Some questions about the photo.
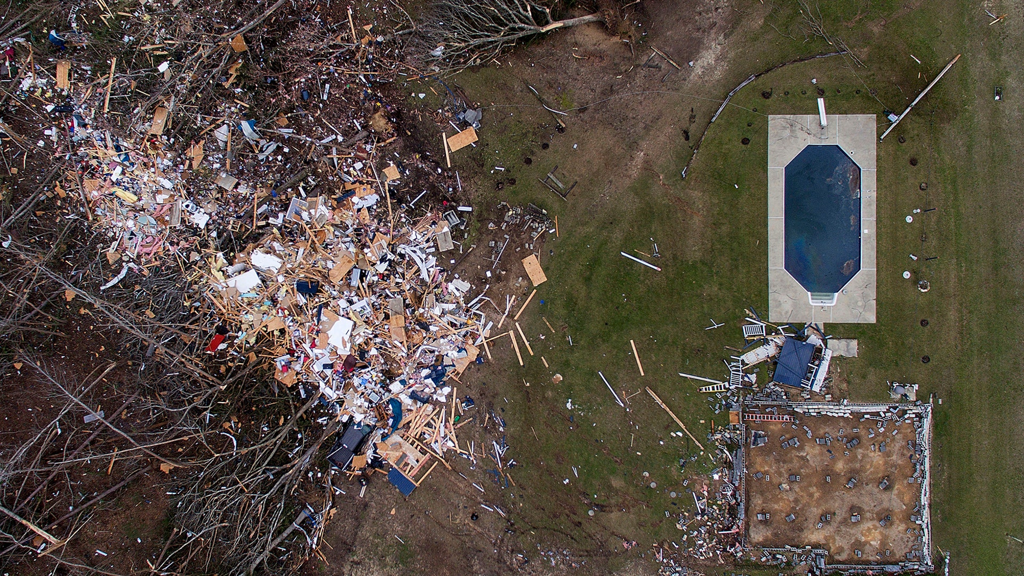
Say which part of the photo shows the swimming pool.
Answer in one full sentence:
The swimming pool is located in the right region of the scene.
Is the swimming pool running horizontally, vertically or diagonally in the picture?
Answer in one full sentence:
The swimming pool is laid out vertically.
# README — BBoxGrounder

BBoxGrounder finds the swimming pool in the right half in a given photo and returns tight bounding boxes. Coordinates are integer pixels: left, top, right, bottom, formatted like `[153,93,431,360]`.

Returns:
[783,143,870,311]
